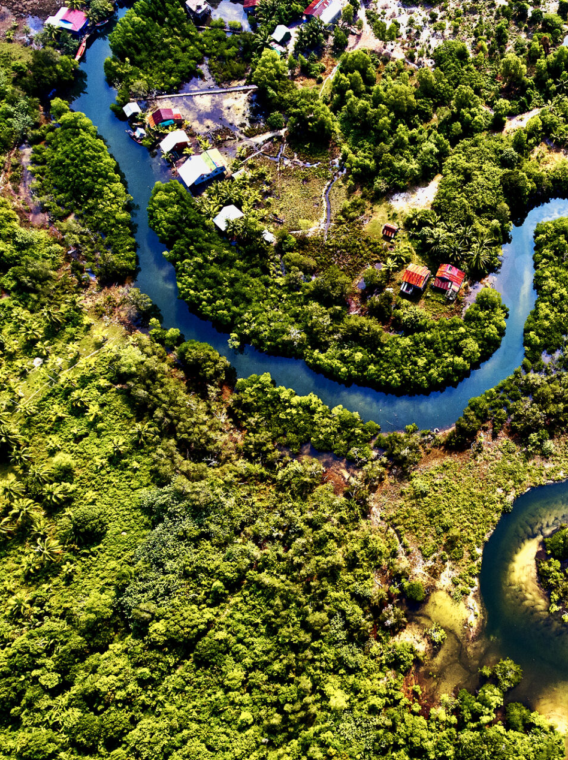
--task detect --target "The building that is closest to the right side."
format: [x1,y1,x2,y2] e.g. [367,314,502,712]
[434,264,466,299]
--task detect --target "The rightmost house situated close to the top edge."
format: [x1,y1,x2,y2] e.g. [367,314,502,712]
[301,0,341,29]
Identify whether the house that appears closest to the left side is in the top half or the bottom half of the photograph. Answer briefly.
top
